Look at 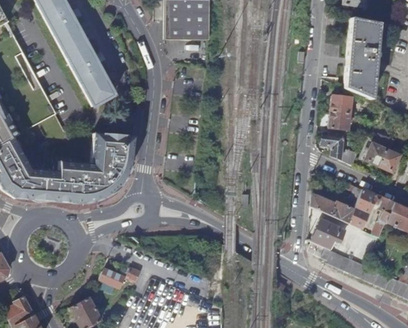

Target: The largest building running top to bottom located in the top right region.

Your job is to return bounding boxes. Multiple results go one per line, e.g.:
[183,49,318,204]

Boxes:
[344,18,384,104]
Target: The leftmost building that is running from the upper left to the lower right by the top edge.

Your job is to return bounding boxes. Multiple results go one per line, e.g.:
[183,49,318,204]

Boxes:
[30,0,118,108]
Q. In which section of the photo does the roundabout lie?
bottom left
